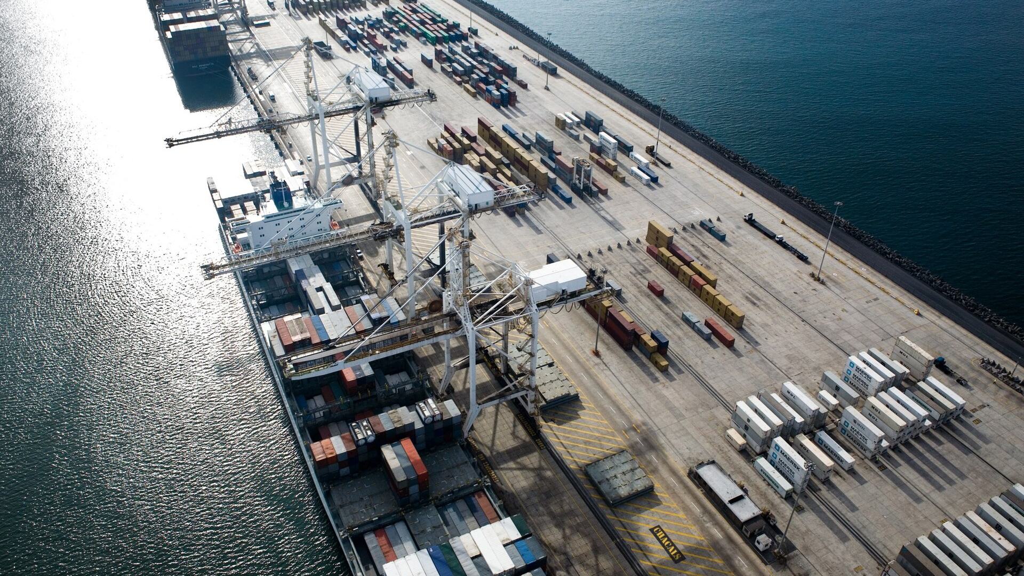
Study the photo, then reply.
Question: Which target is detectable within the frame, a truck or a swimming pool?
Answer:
truck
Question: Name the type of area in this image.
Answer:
port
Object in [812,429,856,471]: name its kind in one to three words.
shipping container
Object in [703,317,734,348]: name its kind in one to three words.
shipping container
